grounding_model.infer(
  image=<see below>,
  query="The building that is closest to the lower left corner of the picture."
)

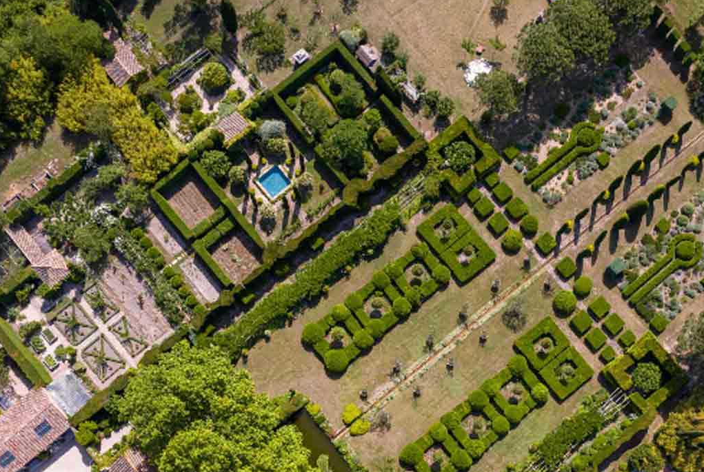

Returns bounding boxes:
[0,388,75,472]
